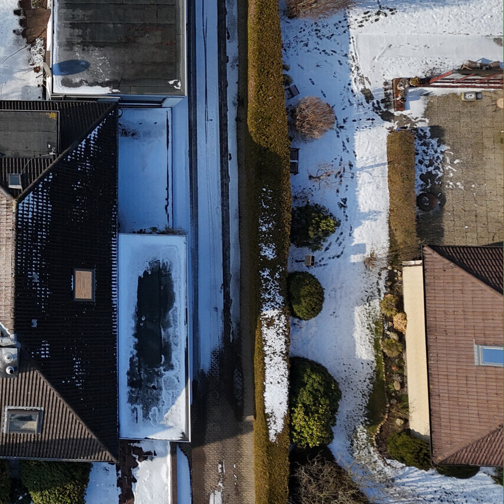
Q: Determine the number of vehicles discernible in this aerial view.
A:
none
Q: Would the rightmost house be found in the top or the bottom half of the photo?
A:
bottom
